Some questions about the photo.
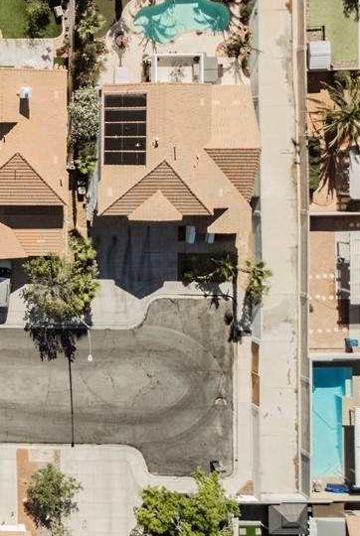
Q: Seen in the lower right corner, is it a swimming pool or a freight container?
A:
swimming pool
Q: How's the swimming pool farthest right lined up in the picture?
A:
from top to bottom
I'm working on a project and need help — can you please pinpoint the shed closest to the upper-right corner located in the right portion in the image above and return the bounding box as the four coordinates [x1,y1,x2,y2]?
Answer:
[308,40,333,70]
